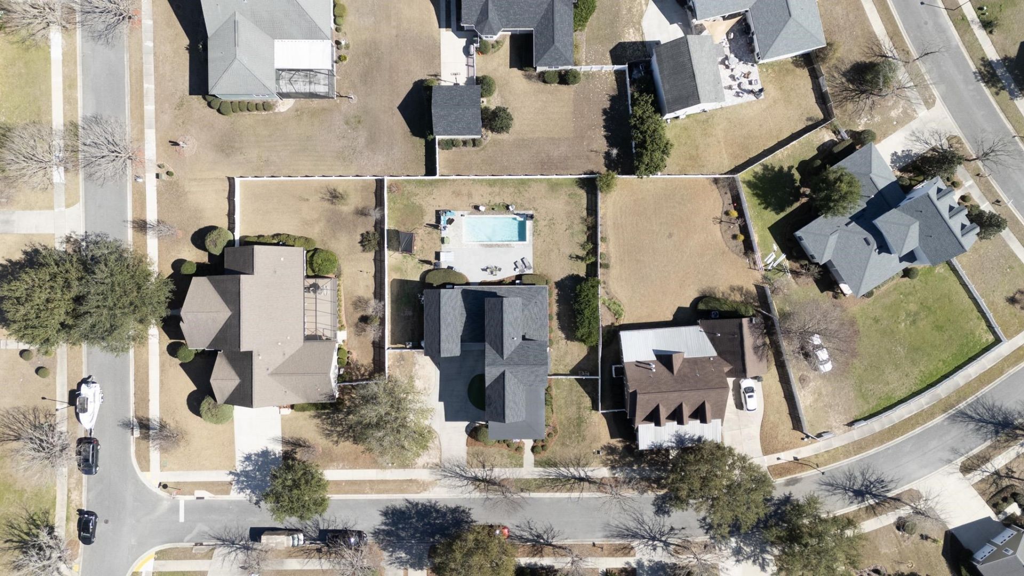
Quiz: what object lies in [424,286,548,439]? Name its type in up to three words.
house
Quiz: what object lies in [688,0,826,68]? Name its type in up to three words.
house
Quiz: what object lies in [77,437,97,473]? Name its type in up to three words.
car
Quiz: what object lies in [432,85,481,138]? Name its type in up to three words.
building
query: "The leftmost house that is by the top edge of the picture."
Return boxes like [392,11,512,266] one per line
[201,0,336,102]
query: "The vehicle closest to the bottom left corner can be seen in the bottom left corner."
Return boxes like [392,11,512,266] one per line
[78,511,96,542]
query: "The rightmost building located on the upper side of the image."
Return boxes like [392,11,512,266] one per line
[793,142,980,298]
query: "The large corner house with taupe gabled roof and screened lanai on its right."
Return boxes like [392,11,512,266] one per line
[181,246,341,410]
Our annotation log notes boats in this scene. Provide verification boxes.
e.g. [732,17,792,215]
[73,382,95,434]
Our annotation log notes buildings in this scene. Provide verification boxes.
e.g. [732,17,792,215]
[181,246,341,410]
[424,286,548,439]
[793,142,980,298]
[688,0,826,68]
[650,35,725,118]
[612,317,767,449]
[462,0,573,72]
[201,0,336,102]
[971,530,1024,576]
[432,85,481,138]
